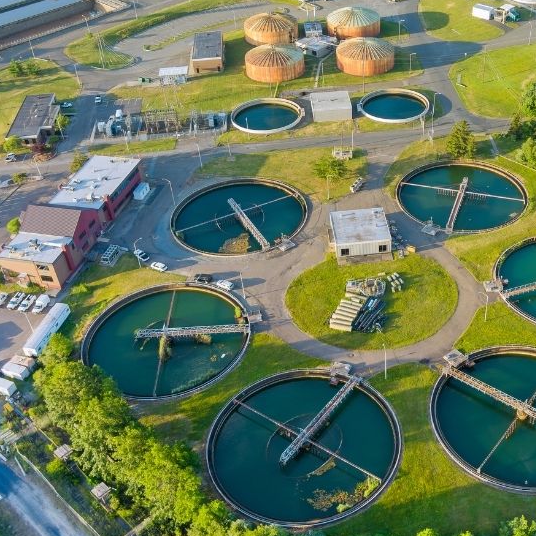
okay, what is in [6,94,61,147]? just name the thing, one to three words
building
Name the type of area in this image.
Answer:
industrial area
